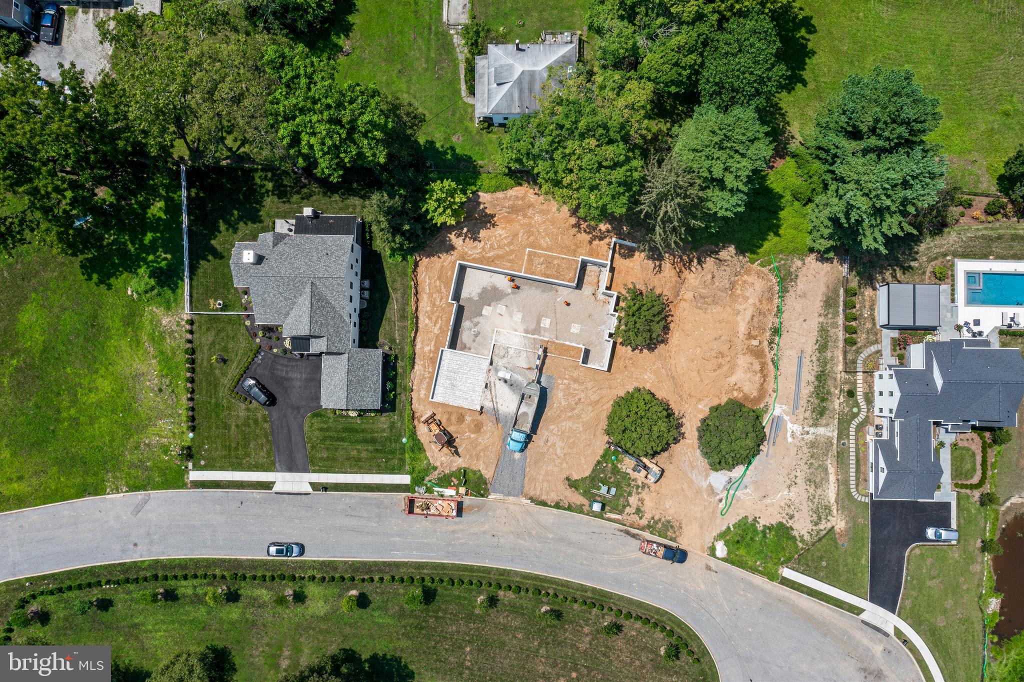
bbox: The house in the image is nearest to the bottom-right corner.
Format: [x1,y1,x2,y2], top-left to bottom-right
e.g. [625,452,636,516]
[868,338,1024,500]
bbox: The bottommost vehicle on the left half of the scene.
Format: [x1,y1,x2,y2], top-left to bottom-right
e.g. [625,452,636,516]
[268,541,305,559]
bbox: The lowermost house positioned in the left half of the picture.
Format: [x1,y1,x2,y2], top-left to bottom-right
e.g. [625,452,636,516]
[229,208,384,410]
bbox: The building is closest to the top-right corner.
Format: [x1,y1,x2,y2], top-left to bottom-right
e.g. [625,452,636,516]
[879,283,941,327]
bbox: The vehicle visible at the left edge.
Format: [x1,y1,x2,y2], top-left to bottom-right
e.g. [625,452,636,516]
[41,3,64,47]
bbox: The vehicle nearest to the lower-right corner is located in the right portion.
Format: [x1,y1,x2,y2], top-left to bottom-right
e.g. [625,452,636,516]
[922,525,963,544]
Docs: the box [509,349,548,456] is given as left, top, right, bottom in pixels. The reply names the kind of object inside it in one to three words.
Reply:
truck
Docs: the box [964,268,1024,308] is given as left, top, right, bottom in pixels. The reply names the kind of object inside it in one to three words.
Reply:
swimming pool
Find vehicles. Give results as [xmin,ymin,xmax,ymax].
[922,525,963,544]
[642,539,687,564]
[268,541,305,559]
[241,376,276,408]
[41,3,64,47]
[419,407,454,456]
[610,441,666,484]
[509,349,548,456]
